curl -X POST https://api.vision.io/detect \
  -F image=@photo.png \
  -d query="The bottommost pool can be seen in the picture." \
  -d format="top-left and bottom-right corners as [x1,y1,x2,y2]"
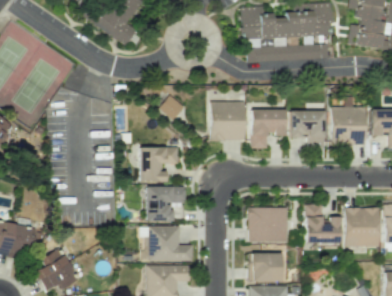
[94,260,112,277]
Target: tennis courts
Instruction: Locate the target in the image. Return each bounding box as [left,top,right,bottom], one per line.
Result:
[0,22,42,108]
[0,44,73,130]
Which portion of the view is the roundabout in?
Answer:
top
